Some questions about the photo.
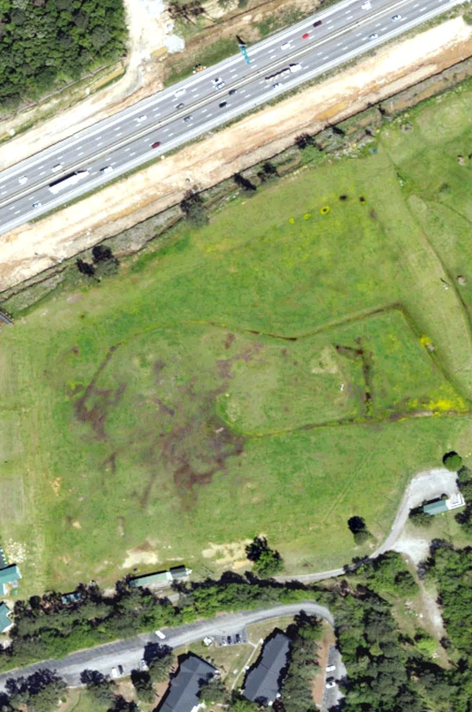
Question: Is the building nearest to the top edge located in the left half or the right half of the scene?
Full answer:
You can find the building nearest to the top edge on the right side of the picture.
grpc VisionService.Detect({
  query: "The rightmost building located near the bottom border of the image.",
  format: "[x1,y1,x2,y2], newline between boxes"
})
[244,632,295,706]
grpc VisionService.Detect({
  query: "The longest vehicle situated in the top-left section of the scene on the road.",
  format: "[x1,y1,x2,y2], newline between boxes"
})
[53,171,90,192]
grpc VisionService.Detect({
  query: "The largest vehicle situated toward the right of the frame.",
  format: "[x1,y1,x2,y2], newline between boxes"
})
[269,65,299,83]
